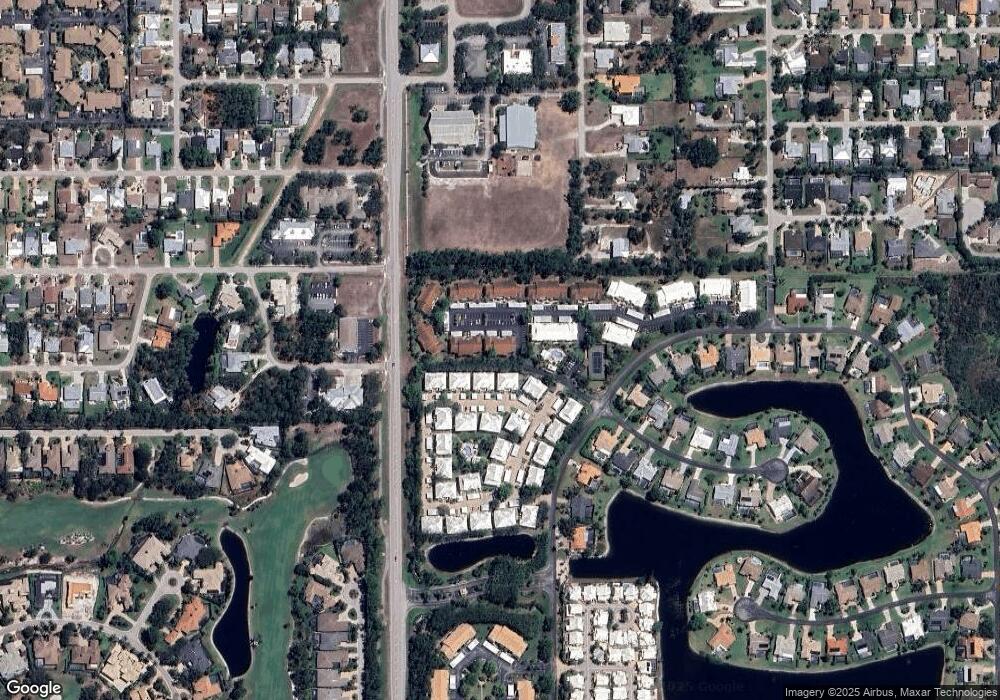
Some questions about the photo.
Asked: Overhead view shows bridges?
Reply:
No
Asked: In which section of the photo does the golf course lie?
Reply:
bottom left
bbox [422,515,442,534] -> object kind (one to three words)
house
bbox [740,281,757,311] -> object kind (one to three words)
building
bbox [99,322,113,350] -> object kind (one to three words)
house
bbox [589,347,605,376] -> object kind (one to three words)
tennis court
